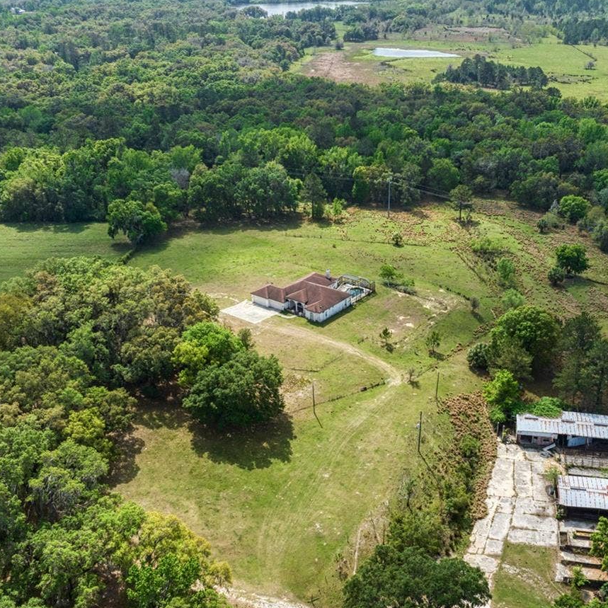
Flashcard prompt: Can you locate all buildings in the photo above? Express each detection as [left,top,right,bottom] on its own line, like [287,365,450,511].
[514,409,608,452]
[555,474,608,523]
[248,271,354,323]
